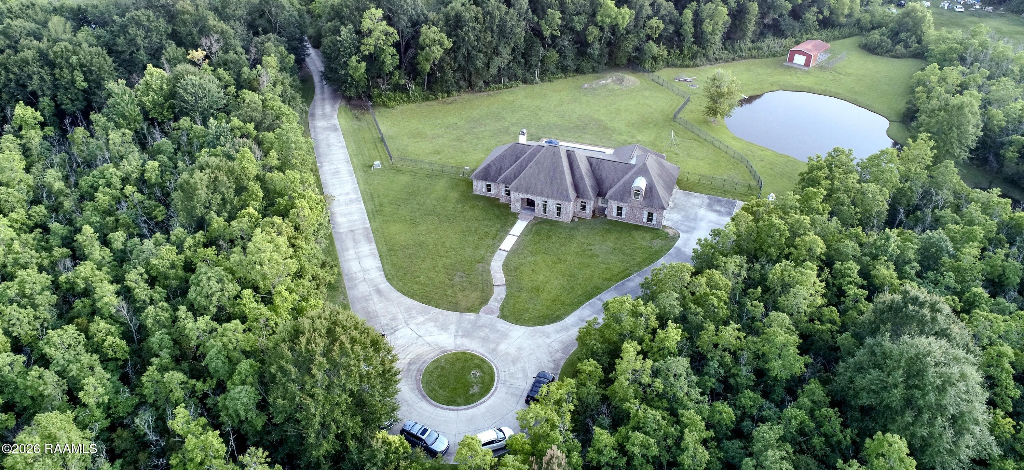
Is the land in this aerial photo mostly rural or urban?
rural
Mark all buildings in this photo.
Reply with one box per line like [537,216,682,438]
[470,126,681,228]
[779,36,830,69]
